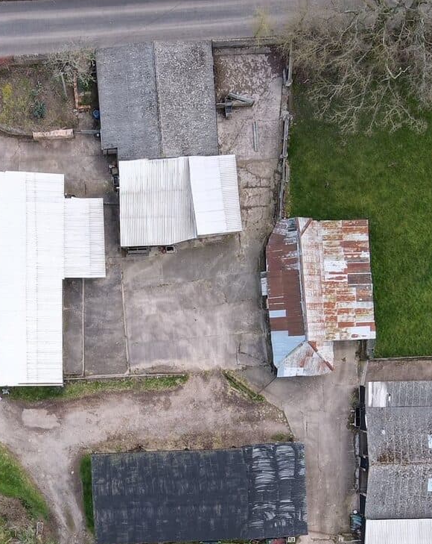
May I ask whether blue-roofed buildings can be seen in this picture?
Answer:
No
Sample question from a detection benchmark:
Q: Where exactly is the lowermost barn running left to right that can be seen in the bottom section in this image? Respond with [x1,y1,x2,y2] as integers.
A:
[91,443,309,544]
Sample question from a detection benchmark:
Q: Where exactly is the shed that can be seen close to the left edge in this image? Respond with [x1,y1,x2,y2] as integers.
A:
[0,171,106,387]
